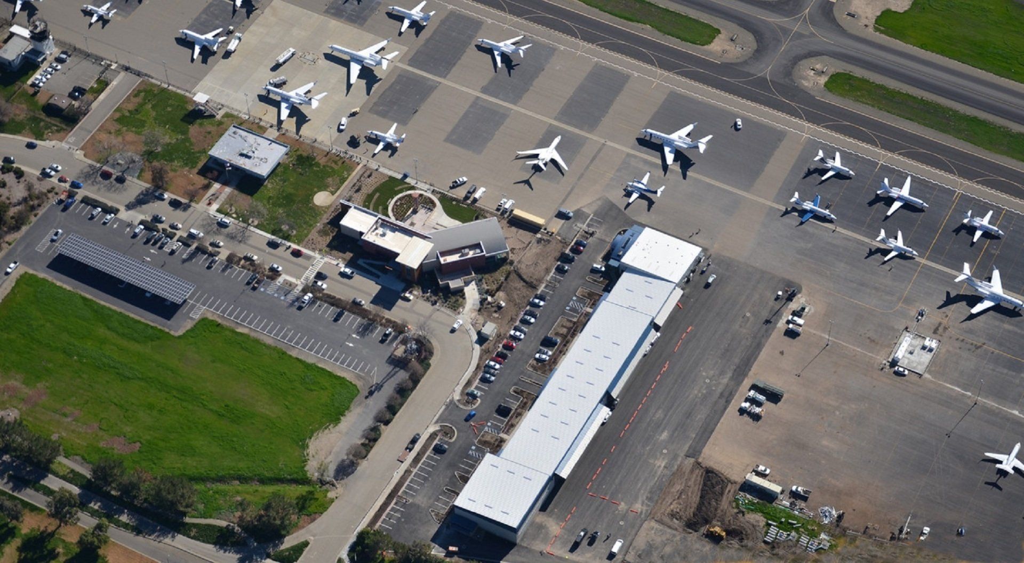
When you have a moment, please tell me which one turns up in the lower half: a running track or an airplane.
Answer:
airplane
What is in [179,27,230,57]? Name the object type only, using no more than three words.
airplane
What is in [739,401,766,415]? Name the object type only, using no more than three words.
vehicle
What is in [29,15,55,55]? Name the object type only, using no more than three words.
building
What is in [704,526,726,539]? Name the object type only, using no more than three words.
vehicle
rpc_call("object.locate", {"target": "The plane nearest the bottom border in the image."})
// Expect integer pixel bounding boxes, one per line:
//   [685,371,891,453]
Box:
[987,442,1024,474]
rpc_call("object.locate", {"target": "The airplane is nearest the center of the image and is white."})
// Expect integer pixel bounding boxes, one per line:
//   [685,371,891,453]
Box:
[516,137,568,171]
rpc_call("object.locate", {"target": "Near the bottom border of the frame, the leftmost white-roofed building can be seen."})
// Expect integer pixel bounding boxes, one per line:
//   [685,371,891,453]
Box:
[452,450,551,546]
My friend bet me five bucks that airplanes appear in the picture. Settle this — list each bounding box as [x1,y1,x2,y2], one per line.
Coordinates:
[179,27,230,57]
[879,174,929,214]
[963,208,1004,241]
[987,442,1024,474]
[16,0,41,12]
[627,170,667,203]
[83,1,117,22]
[367,121,405,154]
[790,190,837,221]
[388,0,439,31]
[235,0,246,8]
[952,262,1024,314]
[516,137,568,171]
[813,148,854,179]
[875,227,918,259]
[262,78,330,120]
[328,34,403,85]
[478,34,529,66]
[642,120,716,165]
